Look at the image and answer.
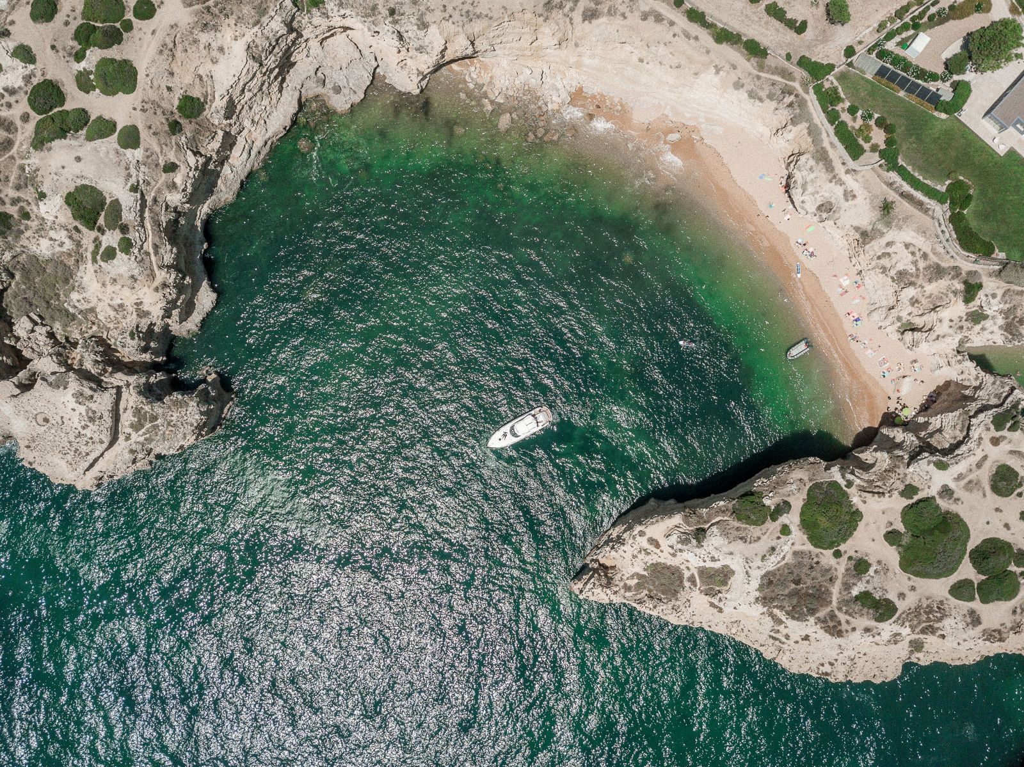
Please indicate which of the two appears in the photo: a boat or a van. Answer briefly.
boat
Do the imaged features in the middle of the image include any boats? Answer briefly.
Yes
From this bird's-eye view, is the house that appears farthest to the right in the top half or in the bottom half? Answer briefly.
top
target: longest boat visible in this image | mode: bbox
[487,406,553,447]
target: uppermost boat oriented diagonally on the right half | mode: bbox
[788,340,811,358]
